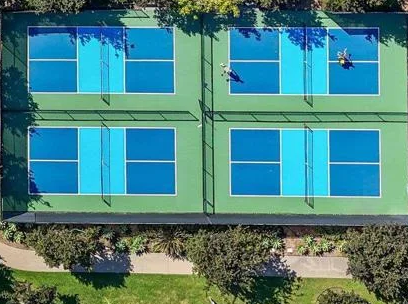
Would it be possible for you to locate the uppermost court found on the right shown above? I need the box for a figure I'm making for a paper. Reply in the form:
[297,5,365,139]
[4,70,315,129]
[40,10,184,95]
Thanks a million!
[229,28,380,96]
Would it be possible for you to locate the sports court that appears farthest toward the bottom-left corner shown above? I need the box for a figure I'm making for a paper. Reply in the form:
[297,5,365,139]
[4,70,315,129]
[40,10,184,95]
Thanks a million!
[29,127,177,196]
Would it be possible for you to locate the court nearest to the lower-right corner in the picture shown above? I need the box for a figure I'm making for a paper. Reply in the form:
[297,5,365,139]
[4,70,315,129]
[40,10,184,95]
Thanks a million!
[230,129,380,197]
